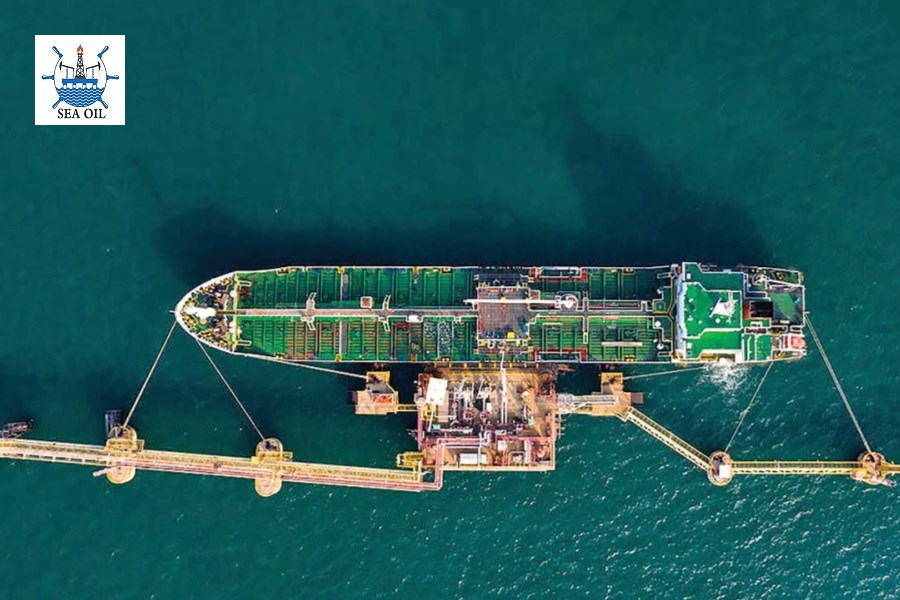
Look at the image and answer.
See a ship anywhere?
Yes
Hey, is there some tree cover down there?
No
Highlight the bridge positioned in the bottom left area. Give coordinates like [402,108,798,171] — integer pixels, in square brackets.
[0,438,428,488]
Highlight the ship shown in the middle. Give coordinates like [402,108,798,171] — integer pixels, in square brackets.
[170,262,809,363]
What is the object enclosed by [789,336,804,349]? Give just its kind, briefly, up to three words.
boat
